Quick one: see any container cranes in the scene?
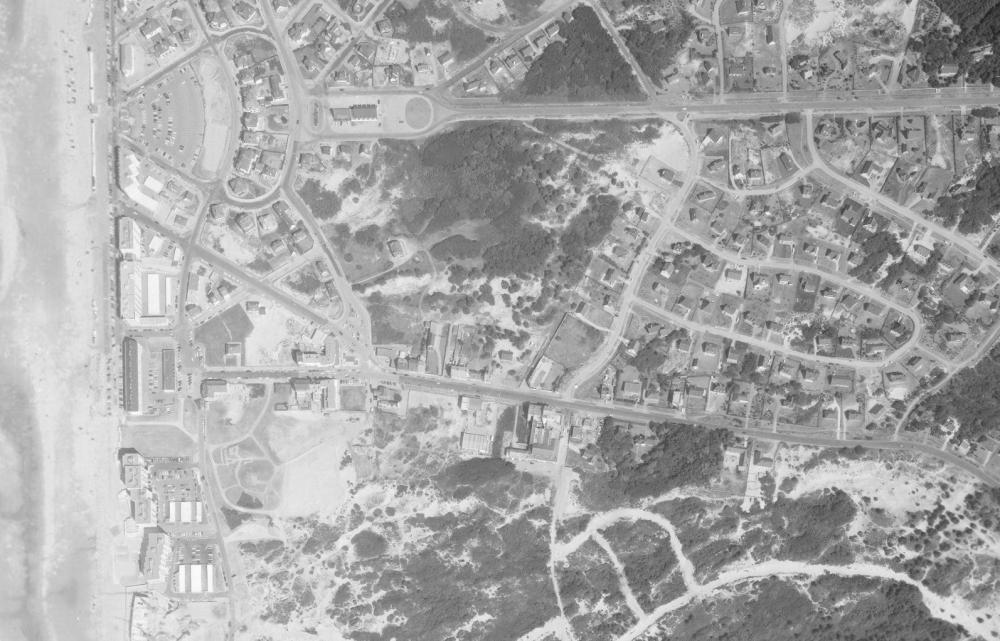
No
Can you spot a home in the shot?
Yes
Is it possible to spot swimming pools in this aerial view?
No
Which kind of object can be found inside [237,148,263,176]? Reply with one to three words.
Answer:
house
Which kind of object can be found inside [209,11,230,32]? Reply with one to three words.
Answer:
house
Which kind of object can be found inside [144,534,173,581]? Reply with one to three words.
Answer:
building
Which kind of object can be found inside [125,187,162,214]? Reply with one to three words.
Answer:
building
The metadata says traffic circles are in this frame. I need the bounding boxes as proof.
[398,94,438,137]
